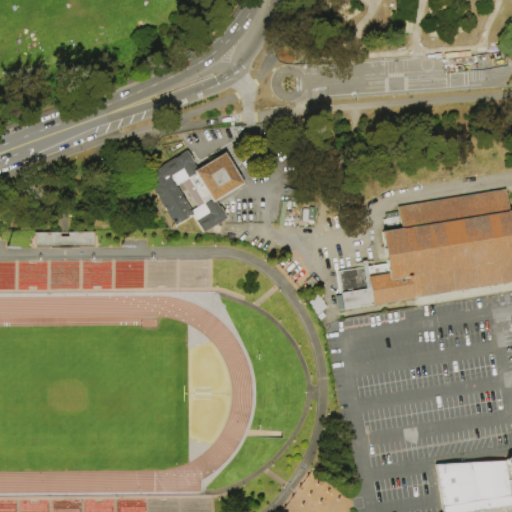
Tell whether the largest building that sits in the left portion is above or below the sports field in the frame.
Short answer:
above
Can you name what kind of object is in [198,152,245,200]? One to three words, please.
building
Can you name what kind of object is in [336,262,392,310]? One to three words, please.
building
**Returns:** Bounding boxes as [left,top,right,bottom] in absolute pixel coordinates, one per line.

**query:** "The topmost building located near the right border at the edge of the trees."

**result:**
[372,188,512,306]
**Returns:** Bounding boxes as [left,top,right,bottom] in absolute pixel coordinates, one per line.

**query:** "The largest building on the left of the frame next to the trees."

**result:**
[157,150,226,230]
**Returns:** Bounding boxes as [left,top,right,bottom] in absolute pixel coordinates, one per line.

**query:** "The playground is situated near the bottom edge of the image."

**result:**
[284,468,356,512]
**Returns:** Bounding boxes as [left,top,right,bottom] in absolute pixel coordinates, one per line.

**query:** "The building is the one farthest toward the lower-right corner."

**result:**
[436,457,512,512]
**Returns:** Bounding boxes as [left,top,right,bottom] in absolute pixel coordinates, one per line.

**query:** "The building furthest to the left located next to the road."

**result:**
[36,232,96,247]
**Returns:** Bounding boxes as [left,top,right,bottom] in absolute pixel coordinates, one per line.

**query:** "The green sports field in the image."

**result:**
[0,316,231,470]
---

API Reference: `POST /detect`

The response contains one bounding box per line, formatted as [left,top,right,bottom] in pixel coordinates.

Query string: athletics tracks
[0,292,254,495]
